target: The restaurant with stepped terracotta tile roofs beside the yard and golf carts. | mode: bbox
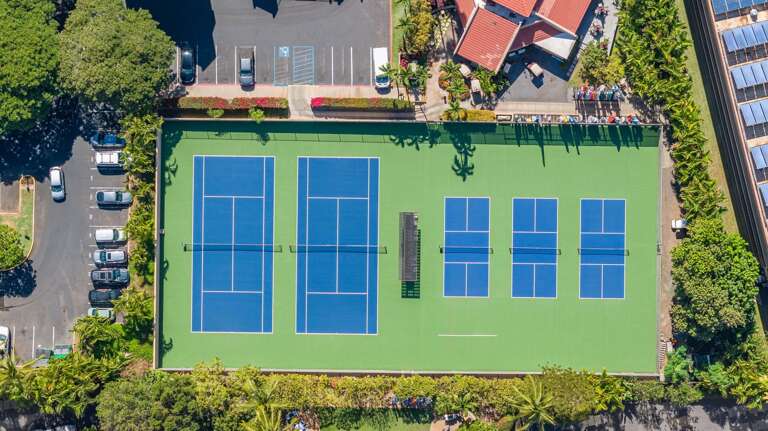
[454,0,595,76]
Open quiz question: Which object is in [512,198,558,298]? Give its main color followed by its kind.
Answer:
blue sports court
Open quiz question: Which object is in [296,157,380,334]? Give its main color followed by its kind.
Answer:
blue tennis court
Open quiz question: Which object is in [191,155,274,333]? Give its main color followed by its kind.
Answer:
blue tennis court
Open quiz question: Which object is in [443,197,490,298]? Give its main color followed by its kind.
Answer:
blue sports court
